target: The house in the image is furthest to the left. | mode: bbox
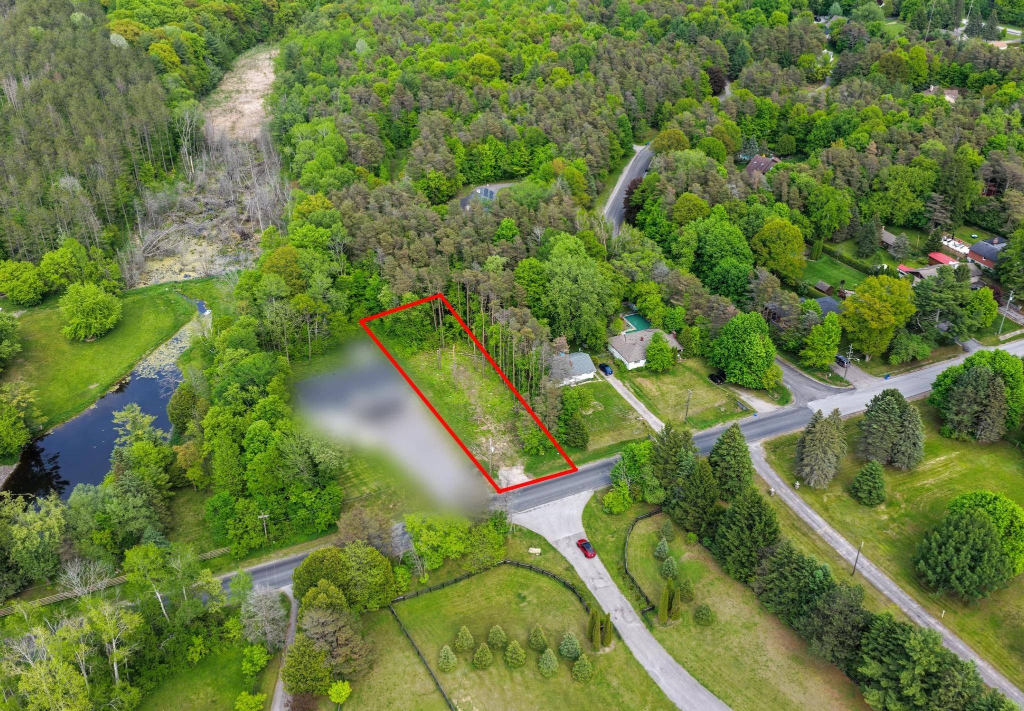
[291,354,410,419]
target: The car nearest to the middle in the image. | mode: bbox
[599,363,614,378]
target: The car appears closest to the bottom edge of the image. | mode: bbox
[574,537,600,561]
